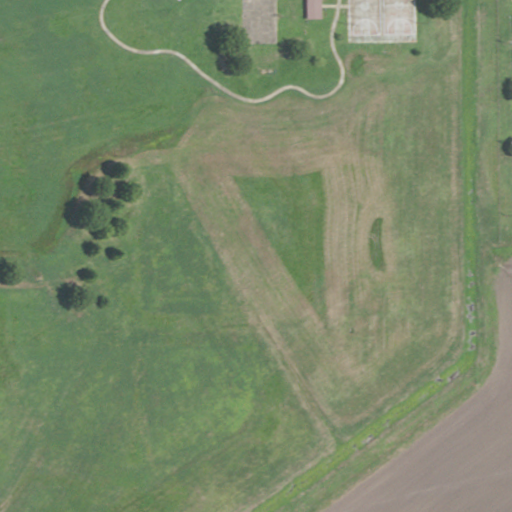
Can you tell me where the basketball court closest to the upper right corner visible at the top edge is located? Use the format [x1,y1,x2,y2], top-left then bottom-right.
[385,0,415,36]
